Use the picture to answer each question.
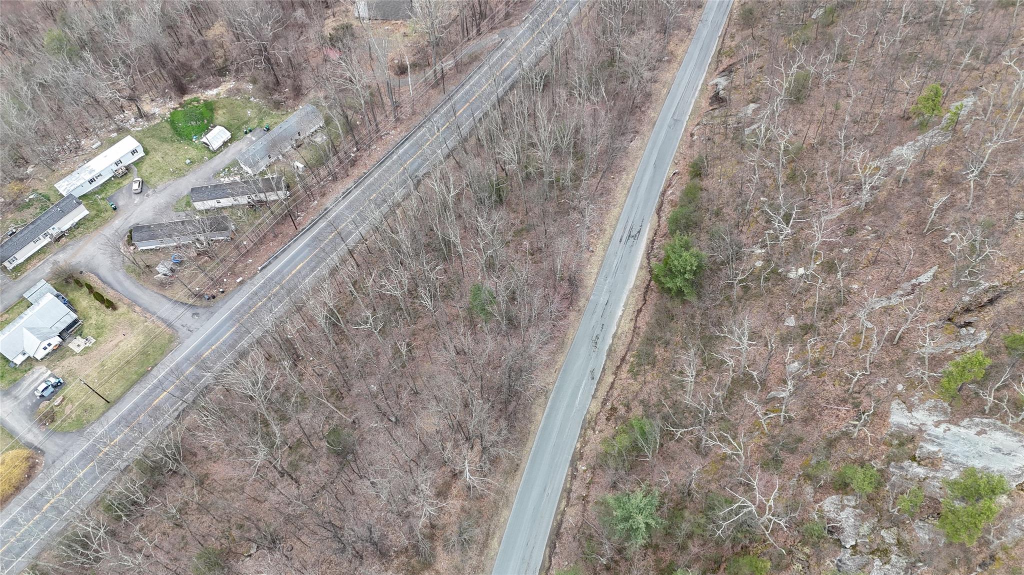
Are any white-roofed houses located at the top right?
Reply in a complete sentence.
No, I see no white-roofed house at the top right.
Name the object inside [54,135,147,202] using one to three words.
house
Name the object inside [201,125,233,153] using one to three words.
shed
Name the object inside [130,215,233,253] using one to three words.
house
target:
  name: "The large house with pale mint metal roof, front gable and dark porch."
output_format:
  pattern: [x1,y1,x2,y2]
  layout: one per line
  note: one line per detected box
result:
[0,279,85,366]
